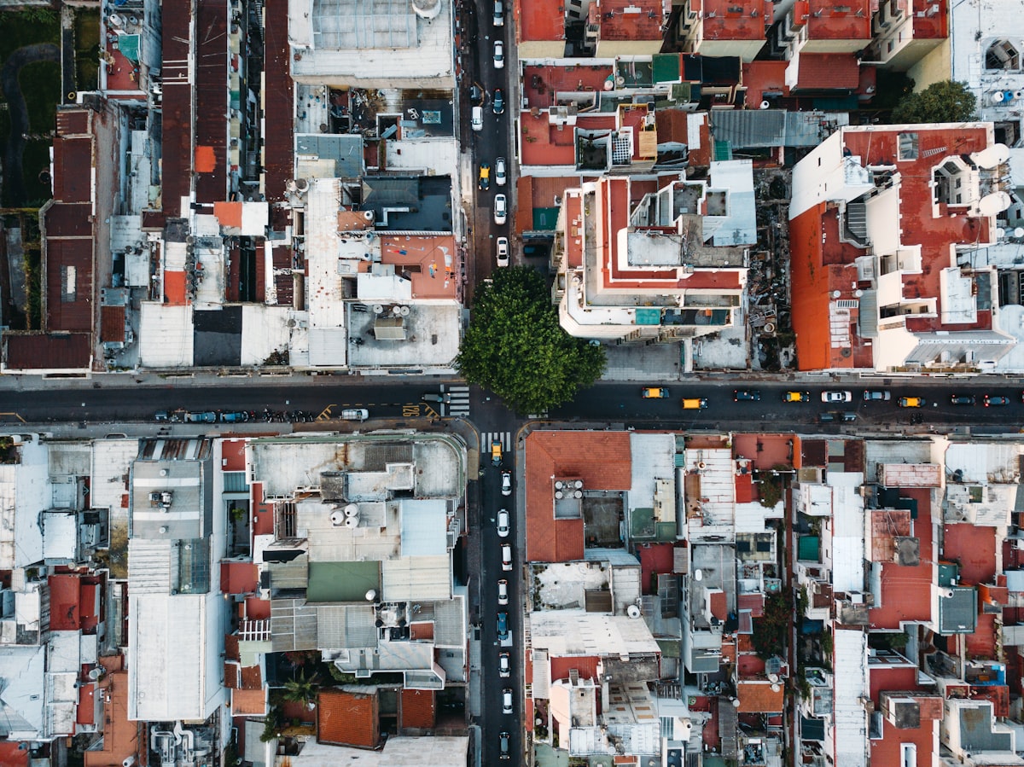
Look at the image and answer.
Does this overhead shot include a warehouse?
Yes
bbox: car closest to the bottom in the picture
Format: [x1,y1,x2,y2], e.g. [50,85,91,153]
[498,730,510,758]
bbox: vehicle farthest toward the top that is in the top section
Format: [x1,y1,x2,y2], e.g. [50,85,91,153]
[492,1,504,27]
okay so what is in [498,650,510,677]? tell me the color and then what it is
white vehicle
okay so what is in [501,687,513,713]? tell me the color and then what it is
white vehicle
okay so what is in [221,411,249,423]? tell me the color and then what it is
blue vehicle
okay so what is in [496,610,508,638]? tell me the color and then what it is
blue vehicle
